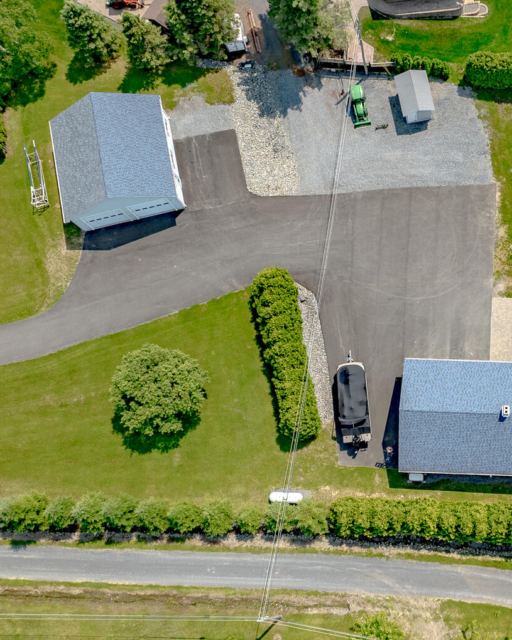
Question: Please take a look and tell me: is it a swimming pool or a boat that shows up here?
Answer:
boat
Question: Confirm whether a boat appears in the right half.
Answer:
Yes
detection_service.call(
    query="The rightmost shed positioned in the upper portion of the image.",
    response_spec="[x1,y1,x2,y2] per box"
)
[394,65,434,128]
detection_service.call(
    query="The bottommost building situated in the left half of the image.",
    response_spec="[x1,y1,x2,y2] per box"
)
[48,92,183,232]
